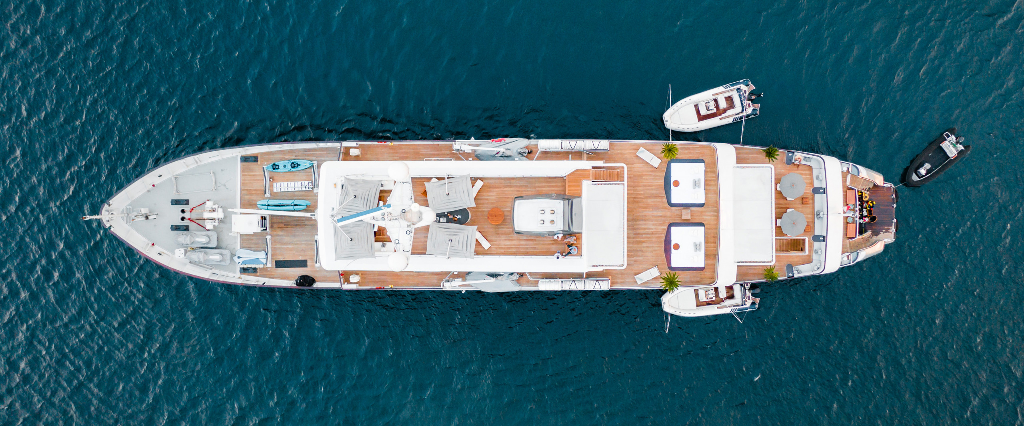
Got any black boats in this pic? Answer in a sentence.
Yes, the frame does contain a black boat.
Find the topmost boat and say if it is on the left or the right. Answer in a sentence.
It is on the right.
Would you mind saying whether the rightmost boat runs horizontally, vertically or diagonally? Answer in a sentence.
In this picture, the rightmost boat is oriented diagonally.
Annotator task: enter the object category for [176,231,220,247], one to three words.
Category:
boat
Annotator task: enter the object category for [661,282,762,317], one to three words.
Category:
boat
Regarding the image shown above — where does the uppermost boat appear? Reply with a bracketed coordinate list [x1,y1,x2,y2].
[662,78,764,132]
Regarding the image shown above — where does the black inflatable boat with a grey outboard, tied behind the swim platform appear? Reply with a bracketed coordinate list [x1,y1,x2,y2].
[904,129,970,188]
